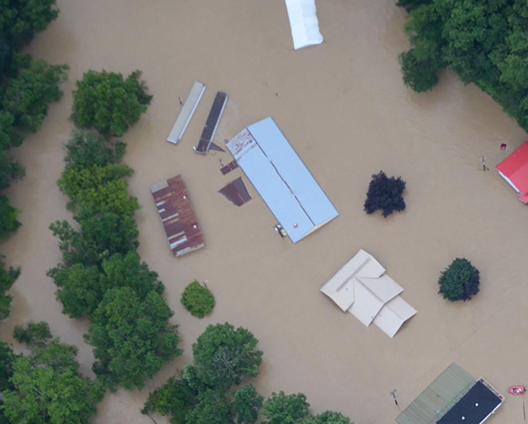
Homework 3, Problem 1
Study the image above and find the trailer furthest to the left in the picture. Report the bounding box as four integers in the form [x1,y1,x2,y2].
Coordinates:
[167,82,206,146]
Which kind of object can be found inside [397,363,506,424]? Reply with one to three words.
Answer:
house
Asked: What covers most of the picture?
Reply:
water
